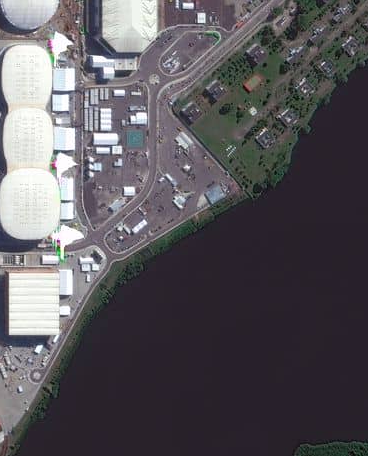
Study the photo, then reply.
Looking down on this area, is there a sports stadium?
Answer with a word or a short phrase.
Yes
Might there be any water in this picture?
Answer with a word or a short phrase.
Yes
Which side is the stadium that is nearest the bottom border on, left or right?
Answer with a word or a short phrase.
left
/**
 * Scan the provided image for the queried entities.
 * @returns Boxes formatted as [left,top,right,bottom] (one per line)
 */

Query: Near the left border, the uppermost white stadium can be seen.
[0,43,54,108]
